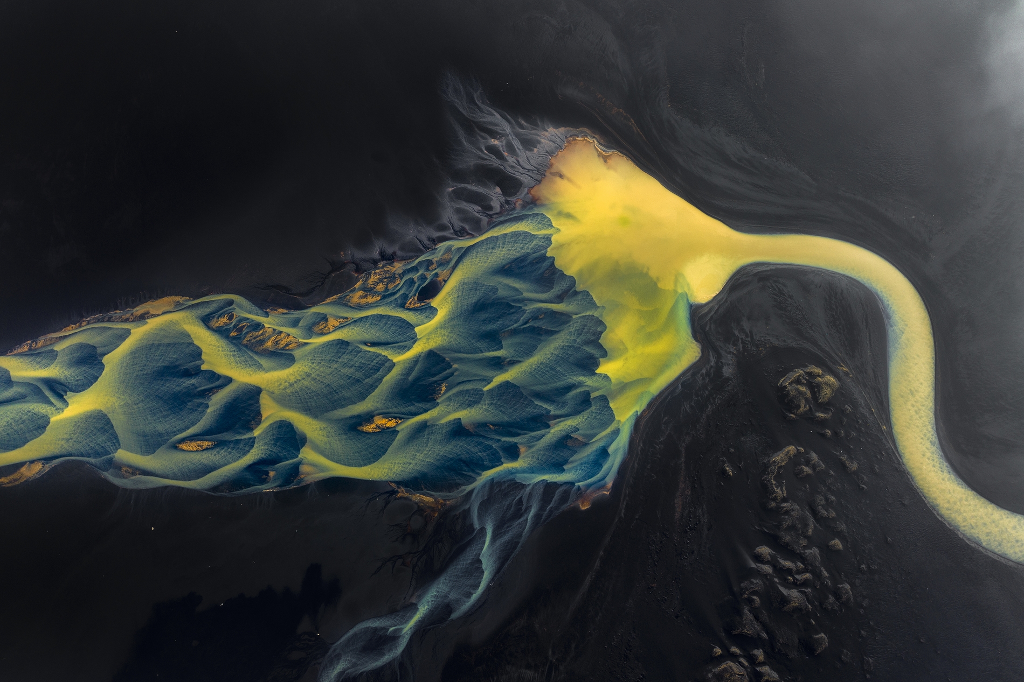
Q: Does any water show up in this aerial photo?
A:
Yes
